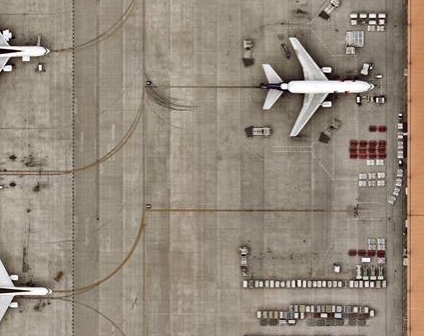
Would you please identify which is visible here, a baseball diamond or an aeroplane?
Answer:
aeroplane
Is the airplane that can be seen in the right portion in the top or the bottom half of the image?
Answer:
top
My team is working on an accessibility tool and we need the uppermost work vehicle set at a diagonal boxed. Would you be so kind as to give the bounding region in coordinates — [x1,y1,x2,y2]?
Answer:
[320,0,340,19]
